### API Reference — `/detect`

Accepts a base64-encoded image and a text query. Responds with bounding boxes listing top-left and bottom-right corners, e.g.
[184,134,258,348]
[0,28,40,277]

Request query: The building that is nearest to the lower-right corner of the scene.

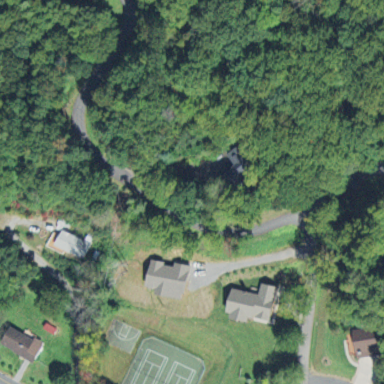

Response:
[347,327,378,356]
